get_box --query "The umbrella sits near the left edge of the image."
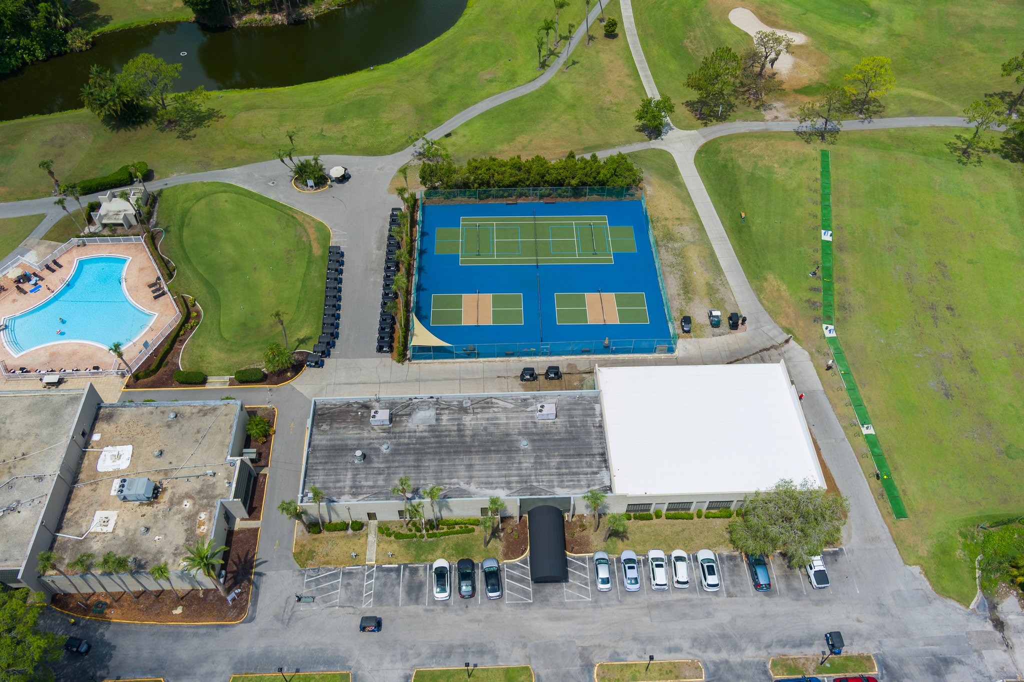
[6,267,24,282]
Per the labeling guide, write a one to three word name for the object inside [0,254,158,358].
swimming pool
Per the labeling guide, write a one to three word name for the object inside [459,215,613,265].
tennis court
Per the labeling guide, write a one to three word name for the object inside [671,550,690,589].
car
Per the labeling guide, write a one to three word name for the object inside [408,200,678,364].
sports court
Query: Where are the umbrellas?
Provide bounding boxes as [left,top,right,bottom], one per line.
[328,164,345,175]
[6,267,24,282]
